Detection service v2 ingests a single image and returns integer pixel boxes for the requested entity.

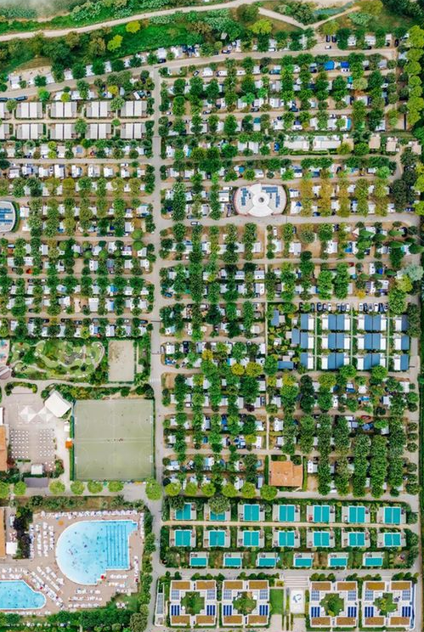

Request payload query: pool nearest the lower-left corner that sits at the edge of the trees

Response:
[0,579,47,610]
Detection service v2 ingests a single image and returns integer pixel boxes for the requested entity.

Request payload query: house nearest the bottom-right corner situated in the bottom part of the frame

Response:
[360,581,411,627]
